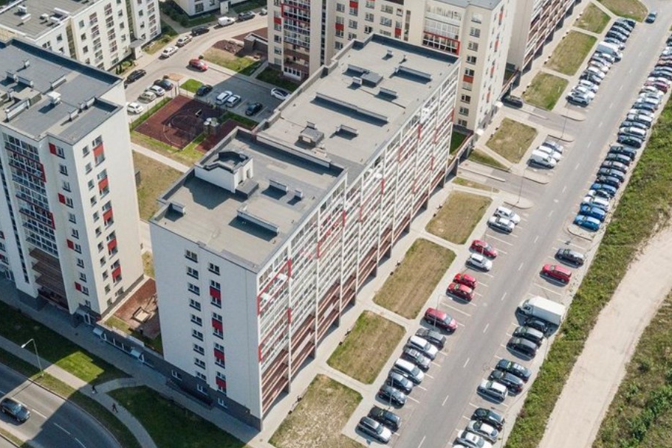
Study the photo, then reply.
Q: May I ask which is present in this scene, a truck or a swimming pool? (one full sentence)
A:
Visible in the photo is a truck.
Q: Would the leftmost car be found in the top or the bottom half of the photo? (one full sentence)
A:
The leftmost car sits in the bottom half of the picture.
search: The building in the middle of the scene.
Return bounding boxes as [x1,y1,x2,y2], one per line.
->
[147,31,464,431]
